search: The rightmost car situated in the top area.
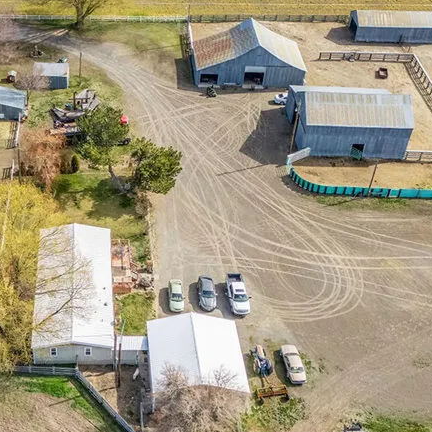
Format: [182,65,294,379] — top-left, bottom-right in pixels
[267,92,285,105]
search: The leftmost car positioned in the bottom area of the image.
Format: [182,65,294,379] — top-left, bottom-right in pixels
[168,280,186,312]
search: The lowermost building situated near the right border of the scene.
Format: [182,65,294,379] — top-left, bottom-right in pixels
[282,86,413,160]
